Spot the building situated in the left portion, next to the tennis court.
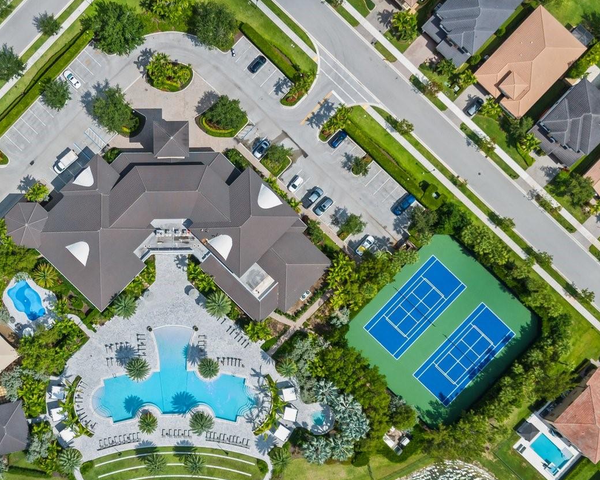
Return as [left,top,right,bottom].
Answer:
[5,121,331,321]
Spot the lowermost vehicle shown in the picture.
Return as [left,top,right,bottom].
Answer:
[354,233,376,254]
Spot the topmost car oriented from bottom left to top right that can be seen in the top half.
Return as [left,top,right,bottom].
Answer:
[248,54,267,74]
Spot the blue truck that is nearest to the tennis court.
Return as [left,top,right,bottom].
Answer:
[393,193,417,216]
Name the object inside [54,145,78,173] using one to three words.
truck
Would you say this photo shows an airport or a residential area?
residential area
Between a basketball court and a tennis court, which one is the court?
tennis court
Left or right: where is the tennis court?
right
